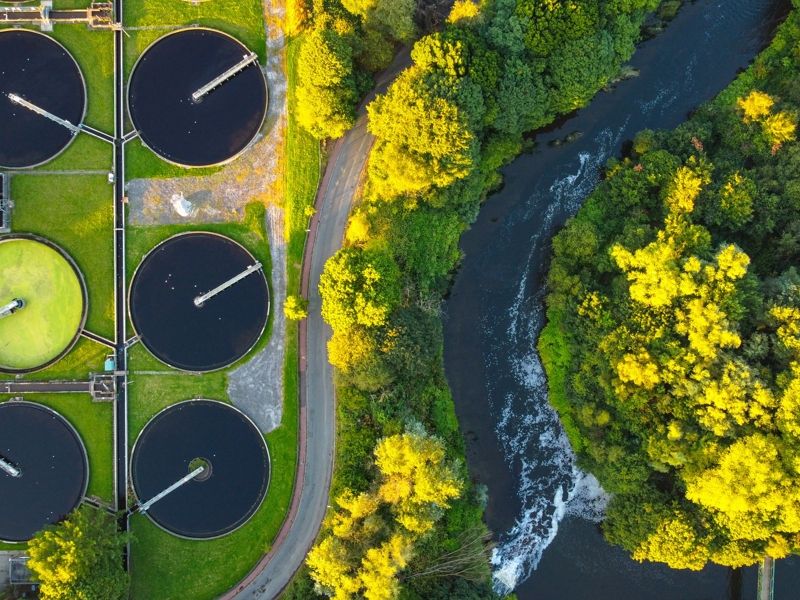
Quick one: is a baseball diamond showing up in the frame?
No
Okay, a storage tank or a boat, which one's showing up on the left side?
storage tank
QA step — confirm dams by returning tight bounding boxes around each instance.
[497,455,591,600]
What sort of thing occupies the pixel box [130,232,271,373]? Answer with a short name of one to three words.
storage tank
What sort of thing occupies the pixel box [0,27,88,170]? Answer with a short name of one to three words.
storage tank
